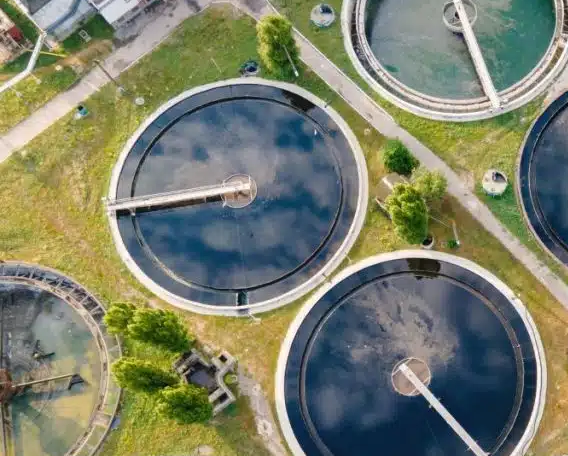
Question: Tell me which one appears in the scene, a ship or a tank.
tank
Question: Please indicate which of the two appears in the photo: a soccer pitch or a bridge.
bridge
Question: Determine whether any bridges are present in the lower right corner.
Yes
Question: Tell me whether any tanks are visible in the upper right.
Yes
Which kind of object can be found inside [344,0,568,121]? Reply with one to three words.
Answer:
storage tank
